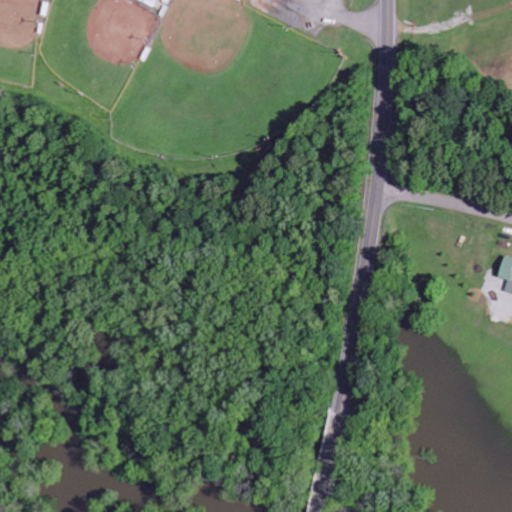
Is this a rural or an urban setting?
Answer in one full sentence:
It looks rural.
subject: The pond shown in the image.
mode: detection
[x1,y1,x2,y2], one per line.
[386,326,512,512]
